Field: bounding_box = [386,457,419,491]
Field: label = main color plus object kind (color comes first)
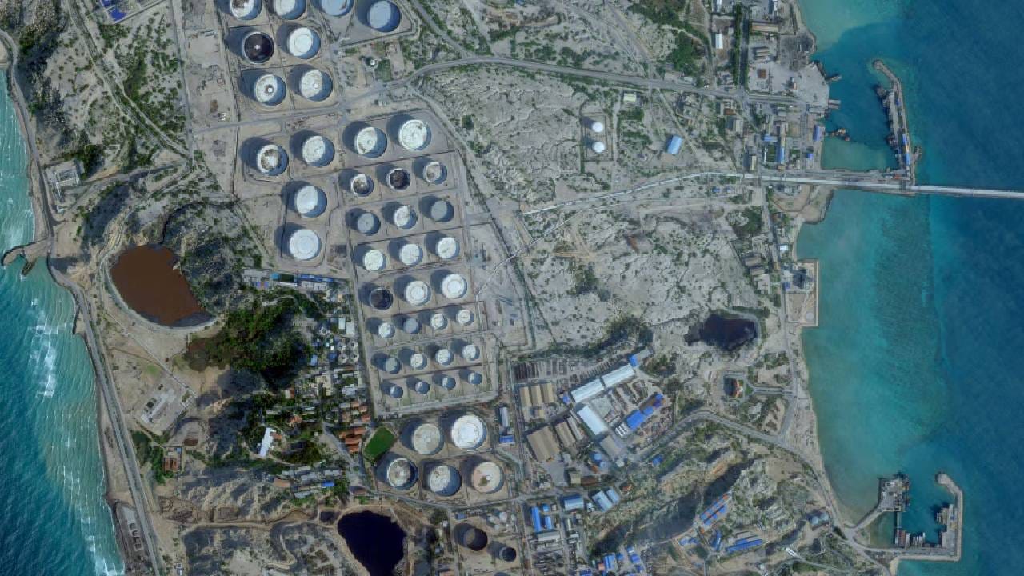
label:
gray storage tank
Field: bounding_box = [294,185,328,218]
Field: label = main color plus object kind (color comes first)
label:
white storage tank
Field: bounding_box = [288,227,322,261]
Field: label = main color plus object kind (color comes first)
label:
white storage tank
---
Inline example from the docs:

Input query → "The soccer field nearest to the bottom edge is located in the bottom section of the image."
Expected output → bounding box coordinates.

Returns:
[362,424,397,458]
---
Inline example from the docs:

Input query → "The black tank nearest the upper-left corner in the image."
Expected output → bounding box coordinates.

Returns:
[242,31,275,64]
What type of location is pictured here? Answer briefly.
port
